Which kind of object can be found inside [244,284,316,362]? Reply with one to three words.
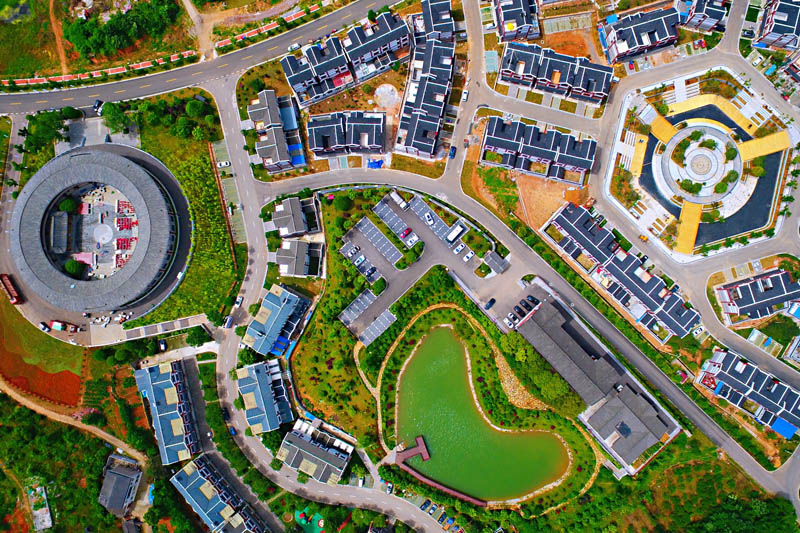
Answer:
house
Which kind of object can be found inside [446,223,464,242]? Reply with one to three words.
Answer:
vehicle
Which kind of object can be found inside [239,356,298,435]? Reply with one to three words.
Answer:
house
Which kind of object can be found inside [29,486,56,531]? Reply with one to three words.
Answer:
shed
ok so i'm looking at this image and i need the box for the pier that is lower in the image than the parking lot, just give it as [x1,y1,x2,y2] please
[384,436,487,507]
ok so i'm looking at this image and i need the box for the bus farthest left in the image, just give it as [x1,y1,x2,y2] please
[0,274,20,304]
